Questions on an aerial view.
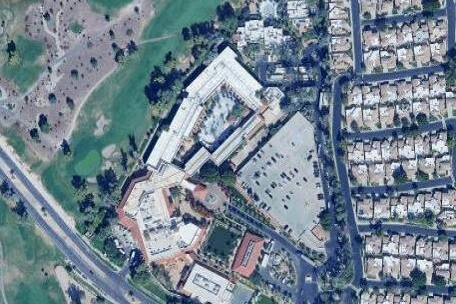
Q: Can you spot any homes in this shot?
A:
Yes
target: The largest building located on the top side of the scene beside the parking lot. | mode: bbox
[145,46,263,178]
